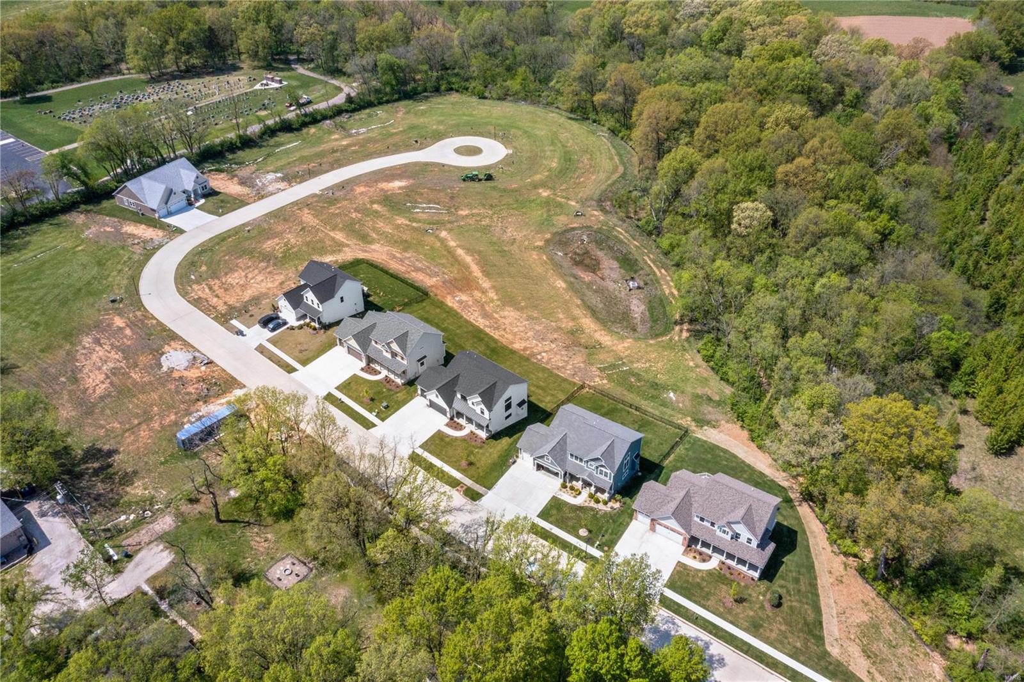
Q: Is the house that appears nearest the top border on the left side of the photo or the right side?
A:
left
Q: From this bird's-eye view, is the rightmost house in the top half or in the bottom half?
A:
bottom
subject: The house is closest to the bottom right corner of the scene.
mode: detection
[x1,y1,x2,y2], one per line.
[631,468,784,578]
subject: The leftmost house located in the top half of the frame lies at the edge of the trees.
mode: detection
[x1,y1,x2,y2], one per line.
[113,158,213,219]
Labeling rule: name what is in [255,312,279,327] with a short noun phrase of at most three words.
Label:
car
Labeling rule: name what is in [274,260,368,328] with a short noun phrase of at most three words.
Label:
house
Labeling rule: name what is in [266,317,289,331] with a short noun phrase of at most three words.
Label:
car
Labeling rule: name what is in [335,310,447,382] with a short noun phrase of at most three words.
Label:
house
